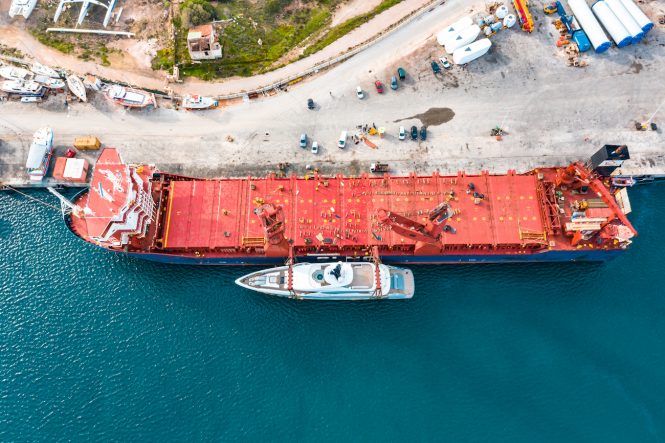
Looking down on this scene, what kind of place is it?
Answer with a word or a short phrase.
port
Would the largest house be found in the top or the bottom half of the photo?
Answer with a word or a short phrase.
top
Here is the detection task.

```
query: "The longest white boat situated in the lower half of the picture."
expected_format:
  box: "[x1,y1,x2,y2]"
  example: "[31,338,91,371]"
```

[232,259,416,299]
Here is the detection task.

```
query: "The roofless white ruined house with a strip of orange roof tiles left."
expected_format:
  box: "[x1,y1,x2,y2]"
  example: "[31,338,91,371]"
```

[186,27,222,60]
